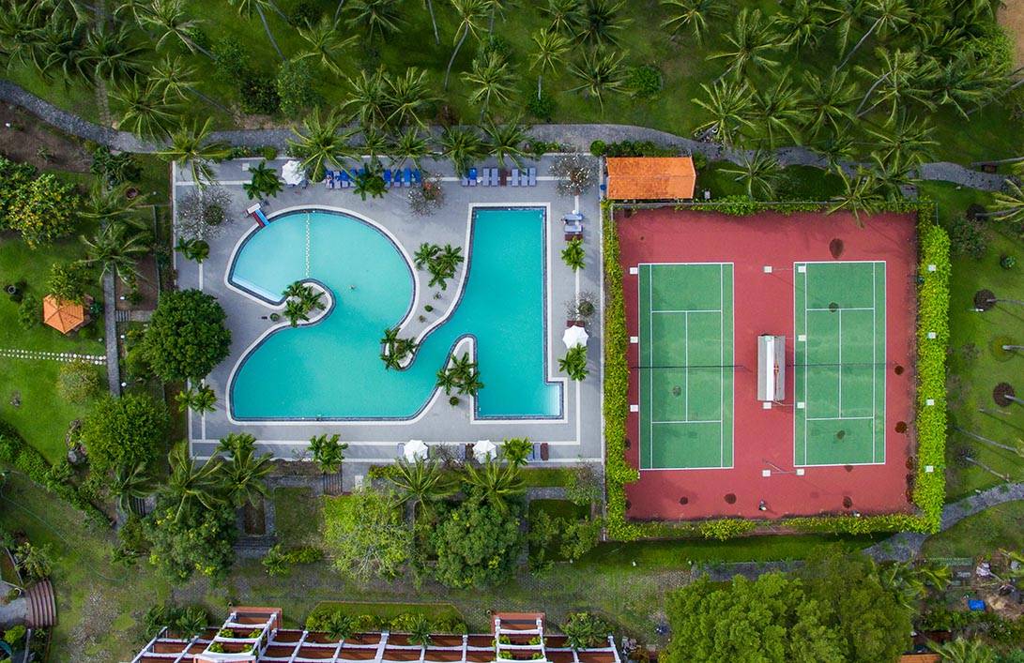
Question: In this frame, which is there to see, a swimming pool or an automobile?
swimming pool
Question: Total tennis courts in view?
two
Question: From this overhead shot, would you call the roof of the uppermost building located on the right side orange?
Yes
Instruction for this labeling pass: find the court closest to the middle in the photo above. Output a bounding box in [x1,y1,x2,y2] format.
[635,263,745,470]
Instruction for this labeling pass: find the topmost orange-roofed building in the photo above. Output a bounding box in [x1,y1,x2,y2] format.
[606,157,697,199]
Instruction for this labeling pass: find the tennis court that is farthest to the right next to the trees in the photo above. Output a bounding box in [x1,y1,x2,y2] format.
[787,261,899,466]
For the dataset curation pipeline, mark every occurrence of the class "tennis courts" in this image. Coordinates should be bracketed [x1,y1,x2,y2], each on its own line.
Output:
[787,261,899,466]
[635,263,745,470]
